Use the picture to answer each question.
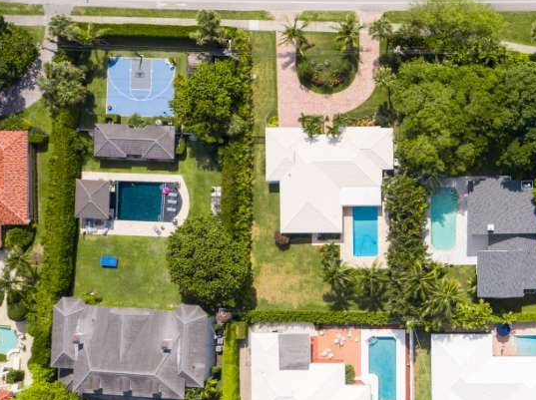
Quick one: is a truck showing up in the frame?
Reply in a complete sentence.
No, there is no truck in the image.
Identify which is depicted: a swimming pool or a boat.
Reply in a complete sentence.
It is a swimming pool that can be seen here.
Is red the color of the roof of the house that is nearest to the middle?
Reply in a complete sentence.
No, the roof of the house that is nearest to the middle is actually white.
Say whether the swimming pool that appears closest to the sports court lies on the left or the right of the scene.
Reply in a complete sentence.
The swimming pool that appears closest to the sports court sits on the left side.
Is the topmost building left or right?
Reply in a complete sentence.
The topmost building is on the left side of the image.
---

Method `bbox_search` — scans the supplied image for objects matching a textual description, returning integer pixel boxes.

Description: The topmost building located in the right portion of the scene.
[266,126,394,233]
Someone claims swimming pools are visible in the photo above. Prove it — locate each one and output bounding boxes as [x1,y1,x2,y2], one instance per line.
[0,323,20,356]
[367,335,398,400]
[428,179,460,251]
[351,206,379,258]
[117,180,164,222]
[511,333,536,356]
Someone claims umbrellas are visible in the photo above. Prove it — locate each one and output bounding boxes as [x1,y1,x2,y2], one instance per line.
[496,322,511,337]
